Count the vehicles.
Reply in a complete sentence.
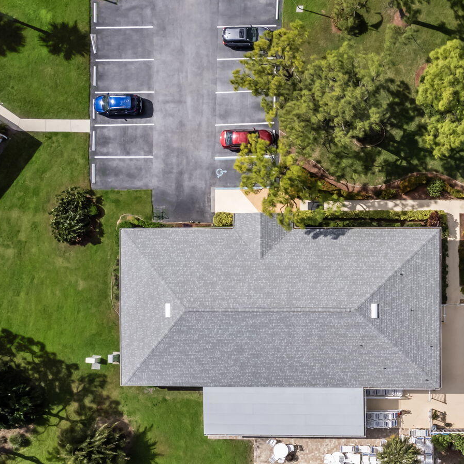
The number of vehicles here is 3.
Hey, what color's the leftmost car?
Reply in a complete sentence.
In this view, the leftmost car is blue.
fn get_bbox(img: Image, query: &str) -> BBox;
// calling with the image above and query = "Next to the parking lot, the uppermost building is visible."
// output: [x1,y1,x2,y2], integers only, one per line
[119,212,441,387]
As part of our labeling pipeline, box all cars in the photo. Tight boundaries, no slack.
[95,91,144,116]
[222,25,269,51]
[221,127,274,151]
